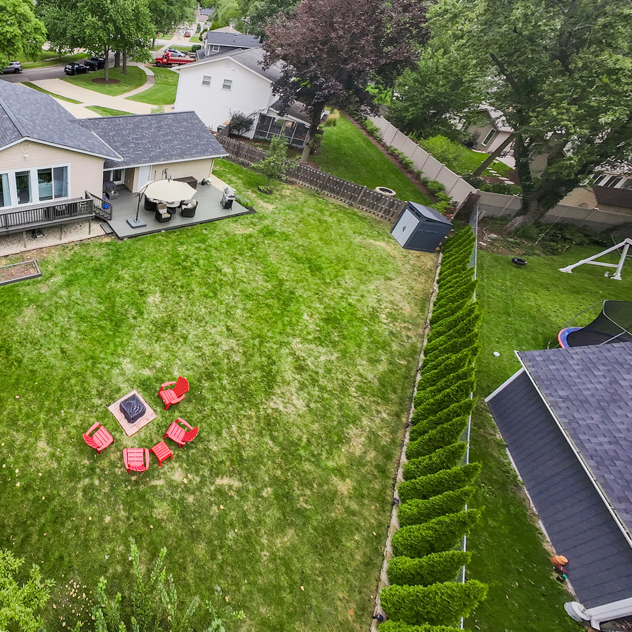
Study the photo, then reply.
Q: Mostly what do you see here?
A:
grass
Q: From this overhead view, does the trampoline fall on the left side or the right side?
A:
right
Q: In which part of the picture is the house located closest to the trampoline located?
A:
bottom right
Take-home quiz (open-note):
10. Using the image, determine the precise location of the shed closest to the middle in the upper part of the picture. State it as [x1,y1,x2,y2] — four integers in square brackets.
[394,203,456,252]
